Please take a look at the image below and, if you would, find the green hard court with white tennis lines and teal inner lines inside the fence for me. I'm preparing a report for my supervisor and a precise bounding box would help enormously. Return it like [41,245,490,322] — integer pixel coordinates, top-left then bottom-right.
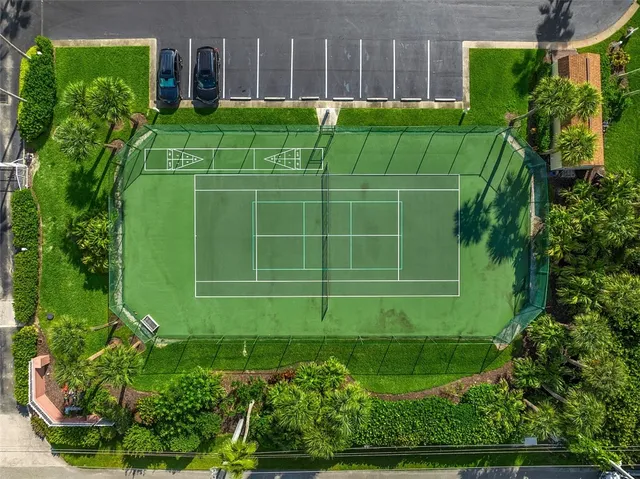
[123,134,534,337]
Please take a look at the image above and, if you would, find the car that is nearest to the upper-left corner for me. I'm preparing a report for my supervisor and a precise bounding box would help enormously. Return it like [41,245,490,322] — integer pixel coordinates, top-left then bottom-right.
[156,51,183,104]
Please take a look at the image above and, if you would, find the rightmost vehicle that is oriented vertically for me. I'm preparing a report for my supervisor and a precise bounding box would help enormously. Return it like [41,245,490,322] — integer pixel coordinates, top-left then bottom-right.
[192,48,220,108]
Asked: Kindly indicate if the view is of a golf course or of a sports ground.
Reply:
sports ground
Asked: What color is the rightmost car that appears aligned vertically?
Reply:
black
